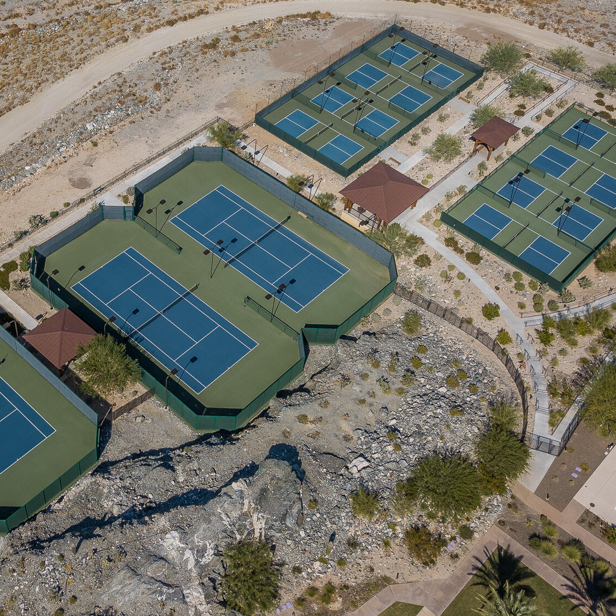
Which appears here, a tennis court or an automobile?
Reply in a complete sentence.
It is a tennis court that can be seen here.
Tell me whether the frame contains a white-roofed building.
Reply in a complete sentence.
No, this view has no white-roofed building in it.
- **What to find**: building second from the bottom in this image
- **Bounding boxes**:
[339,160,430,229]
